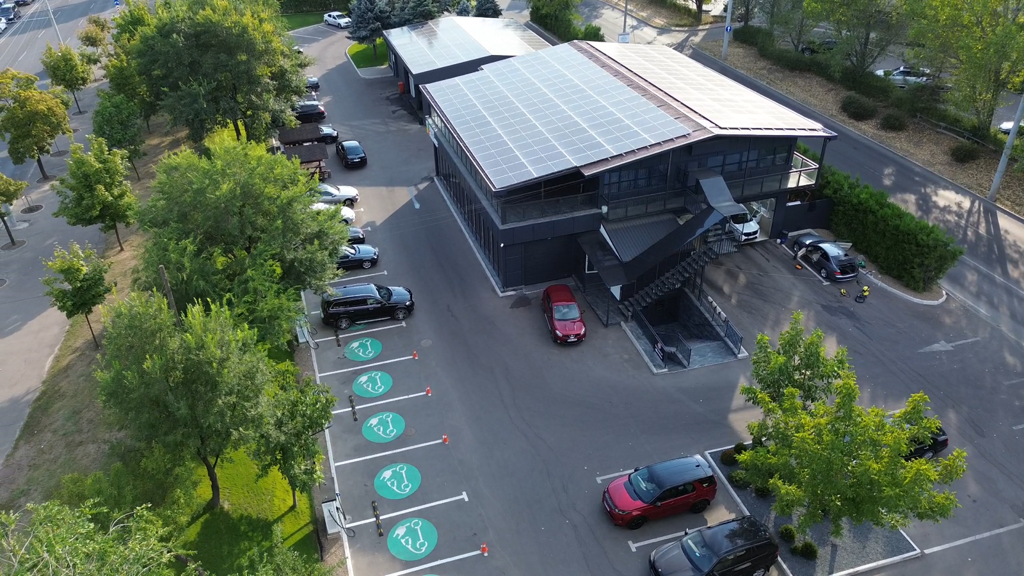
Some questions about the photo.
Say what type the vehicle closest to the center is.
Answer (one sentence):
I'd identify the vehicle closest to the center as an automobile.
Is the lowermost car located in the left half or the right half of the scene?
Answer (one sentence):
The lowermost car sits on the right side.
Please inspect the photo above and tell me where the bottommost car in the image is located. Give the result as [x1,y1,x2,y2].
[640,516,780,576]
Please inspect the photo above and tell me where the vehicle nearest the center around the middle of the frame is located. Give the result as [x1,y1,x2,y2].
[540,284,588,344]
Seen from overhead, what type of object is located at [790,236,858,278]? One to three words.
car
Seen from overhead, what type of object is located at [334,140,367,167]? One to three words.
car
